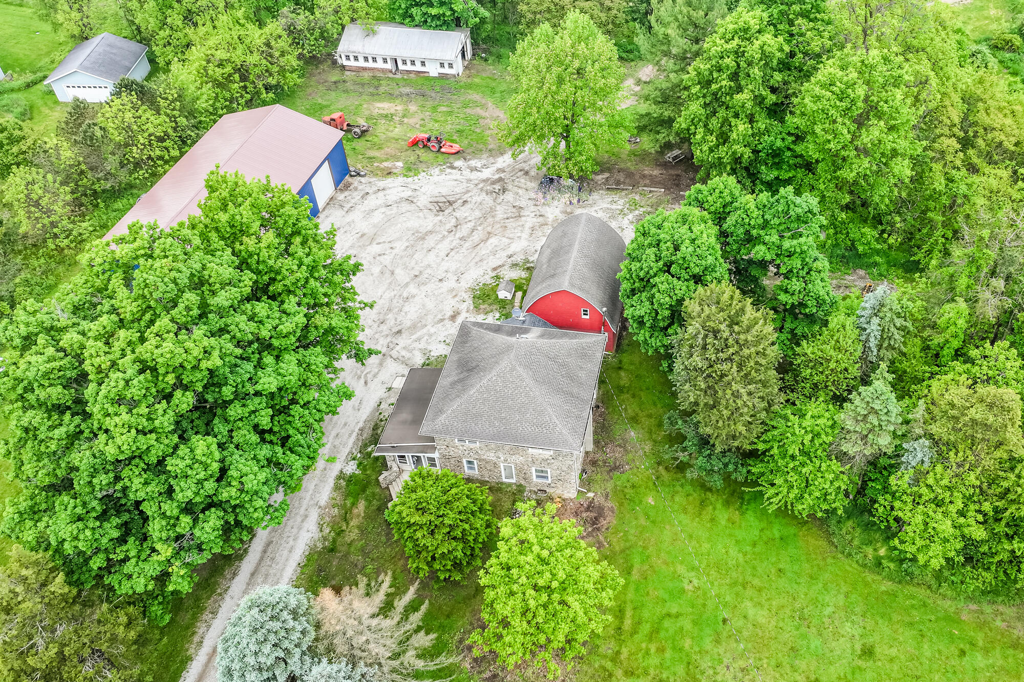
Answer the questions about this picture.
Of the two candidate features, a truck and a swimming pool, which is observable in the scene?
truck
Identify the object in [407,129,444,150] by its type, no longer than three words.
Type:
work vehicle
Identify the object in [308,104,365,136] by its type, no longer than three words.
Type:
truck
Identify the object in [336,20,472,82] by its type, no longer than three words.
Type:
shed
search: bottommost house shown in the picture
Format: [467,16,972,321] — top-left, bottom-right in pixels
[373,315,608,504]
